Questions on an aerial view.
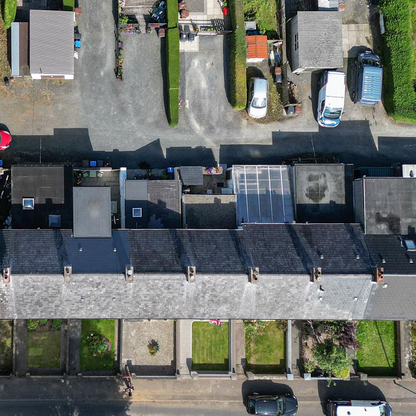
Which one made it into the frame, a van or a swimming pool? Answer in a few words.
van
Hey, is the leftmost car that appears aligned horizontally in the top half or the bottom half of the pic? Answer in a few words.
bottom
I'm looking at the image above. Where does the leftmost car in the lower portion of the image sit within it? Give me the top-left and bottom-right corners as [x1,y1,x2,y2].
[244,391,295,416]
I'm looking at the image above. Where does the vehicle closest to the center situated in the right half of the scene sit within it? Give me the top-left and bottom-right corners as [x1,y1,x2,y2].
[244,77,270,121]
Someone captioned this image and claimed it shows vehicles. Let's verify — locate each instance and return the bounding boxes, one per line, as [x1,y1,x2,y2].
[244,391,295,416]
[0,129,11,151]
[352,50,381,104]
[324,397,386,416]
[316,68,345,126]
[244,77,270,121]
